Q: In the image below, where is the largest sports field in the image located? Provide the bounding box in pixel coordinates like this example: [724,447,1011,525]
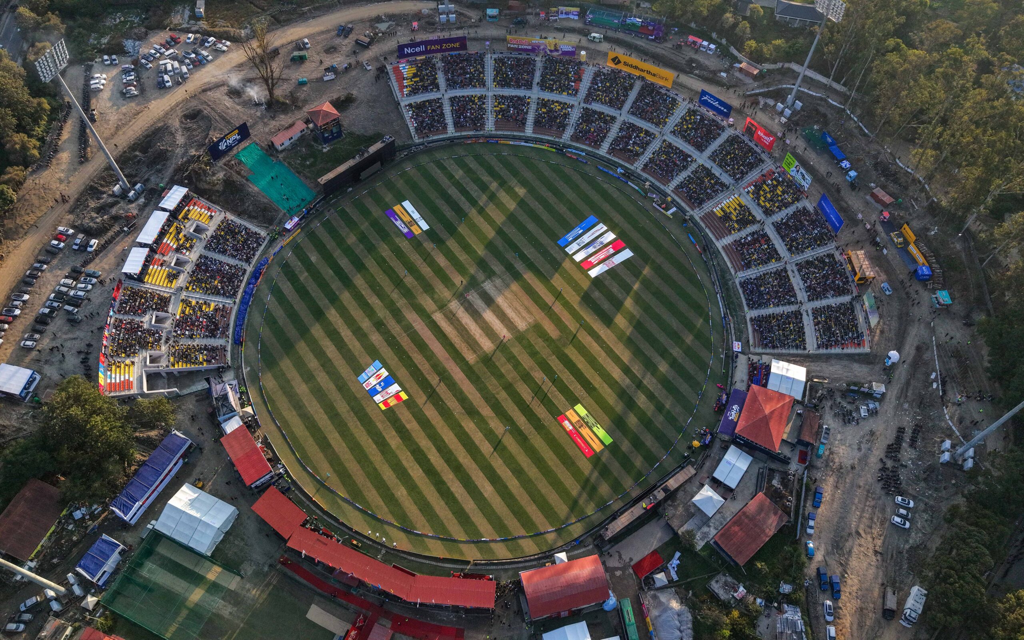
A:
[242,143,725,560]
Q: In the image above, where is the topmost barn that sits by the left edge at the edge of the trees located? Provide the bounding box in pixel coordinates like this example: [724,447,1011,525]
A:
[0,474,64,561]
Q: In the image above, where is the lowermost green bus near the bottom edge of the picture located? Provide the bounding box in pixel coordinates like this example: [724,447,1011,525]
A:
[617,593,639,640]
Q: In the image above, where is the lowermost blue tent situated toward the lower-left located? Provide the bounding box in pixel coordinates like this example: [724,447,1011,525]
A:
[76,536,127,584]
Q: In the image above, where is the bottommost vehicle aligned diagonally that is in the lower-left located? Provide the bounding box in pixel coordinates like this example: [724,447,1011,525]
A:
[19,594,40,612]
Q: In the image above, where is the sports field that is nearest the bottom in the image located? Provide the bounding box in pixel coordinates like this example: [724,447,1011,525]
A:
[113,591,191,636]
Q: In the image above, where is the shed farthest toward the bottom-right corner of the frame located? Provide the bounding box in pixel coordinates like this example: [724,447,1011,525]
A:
[774,604,804,640]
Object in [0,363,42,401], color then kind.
white tent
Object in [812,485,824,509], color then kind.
blue vehicle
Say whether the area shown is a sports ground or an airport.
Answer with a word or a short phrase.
sports ground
